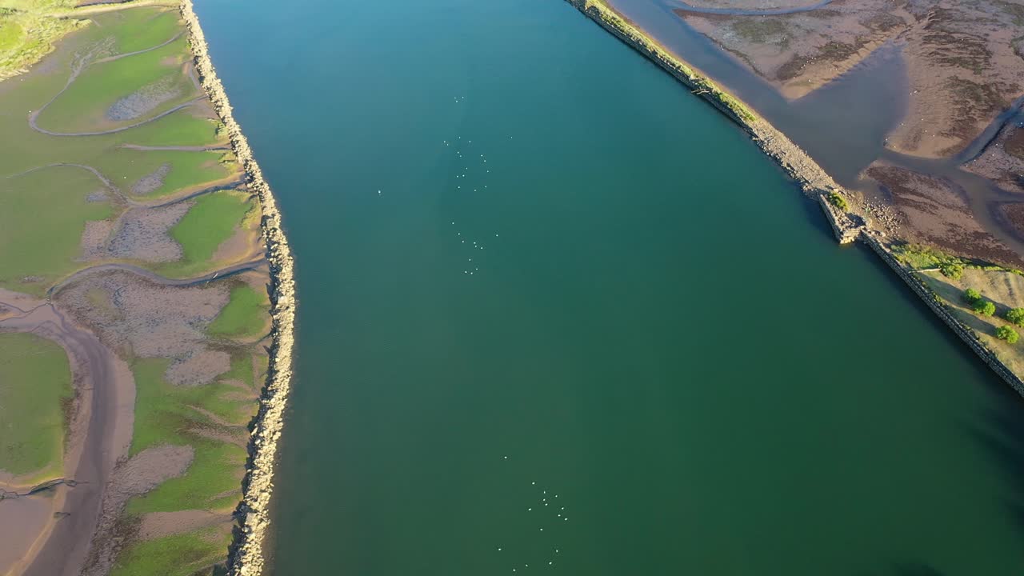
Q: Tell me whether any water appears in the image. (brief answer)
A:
Yes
